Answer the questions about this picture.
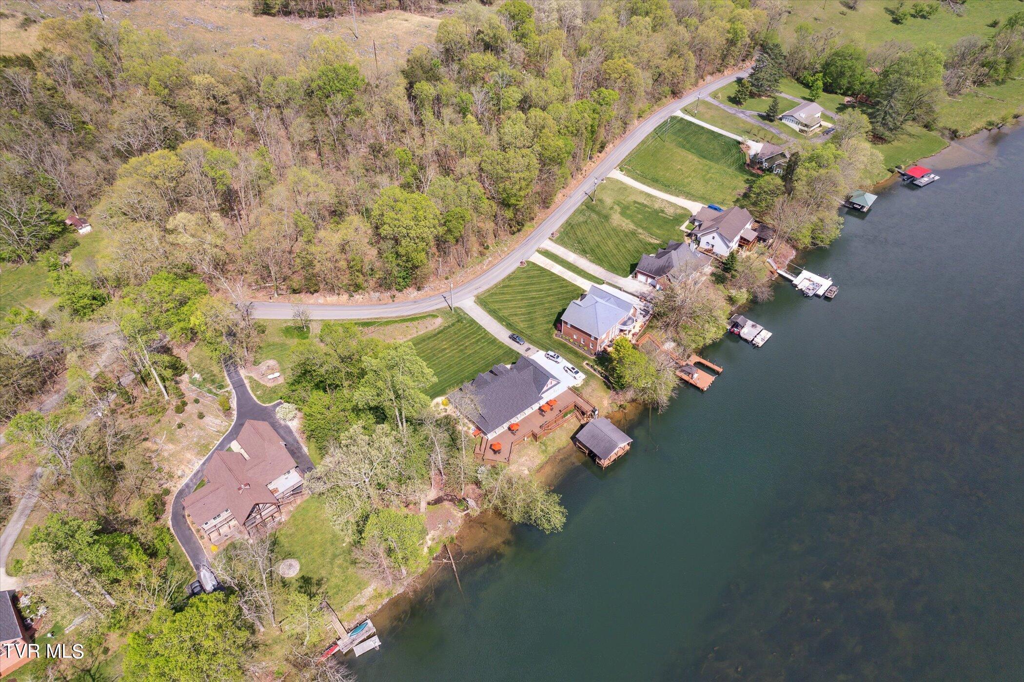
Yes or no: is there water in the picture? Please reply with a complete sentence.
Yes, some water is visible.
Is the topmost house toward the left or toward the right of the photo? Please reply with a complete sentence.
It is on the right.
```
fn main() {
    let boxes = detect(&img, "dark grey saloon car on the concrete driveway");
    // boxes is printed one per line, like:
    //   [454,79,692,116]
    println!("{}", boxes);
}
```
[507,331,527,347]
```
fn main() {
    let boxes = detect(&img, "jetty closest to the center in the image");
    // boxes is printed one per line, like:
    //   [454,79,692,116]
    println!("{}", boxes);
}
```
[676,354,724,393]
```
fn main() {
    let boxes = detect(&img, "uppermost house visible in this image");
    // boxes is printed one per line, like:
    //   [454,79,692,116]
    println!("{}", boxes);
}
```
[781,100,824,137]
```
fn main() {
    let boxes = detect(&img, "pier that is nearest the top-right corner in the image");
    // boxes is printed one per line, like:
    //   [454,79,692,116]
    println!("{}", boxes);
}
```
[895,165,939,187]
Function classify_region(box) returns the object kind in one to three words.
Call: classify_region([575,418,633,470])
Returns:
building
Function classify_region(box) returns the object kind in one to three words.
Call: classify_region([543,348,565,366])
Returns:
car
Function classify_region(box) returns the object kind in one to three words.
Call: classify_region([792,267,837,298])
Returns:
pier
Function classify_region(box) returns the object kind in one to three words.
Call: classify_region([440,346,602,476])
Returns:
house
